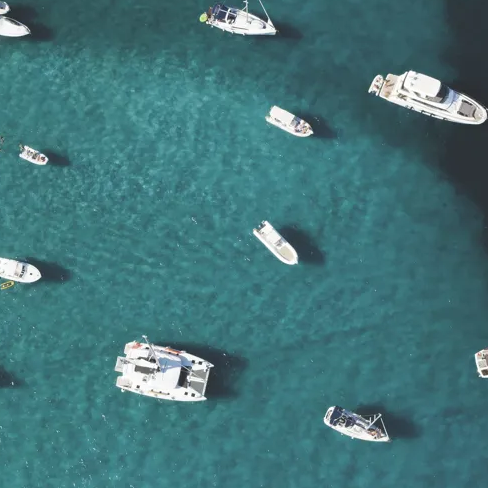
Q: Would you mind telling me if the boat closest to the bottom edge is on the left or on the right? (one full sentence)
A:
It is on the right.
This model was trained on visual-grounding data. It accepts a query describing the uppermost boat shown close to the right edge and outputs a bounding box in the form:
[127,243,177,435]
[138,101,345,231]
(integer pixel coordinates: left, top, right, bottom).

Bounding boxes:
[370,73,488,126]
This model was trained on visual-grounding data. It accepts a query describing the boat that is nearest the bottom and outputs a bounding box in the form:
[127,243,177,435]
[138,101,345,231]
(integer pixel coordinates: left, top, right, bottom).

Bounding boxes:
[326,407,392,442]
